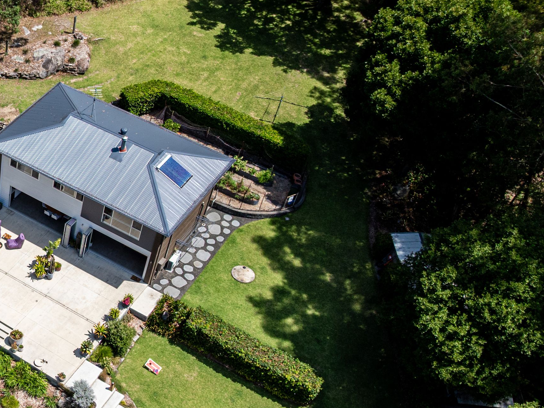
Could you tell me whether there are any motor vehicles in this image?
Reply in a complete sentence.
No, the scene contains no motor vehicle.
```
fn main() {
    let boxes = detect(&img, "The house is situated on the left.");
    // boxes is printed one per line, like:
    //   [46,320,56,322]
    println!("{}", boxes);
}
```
[0,81,237,285]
